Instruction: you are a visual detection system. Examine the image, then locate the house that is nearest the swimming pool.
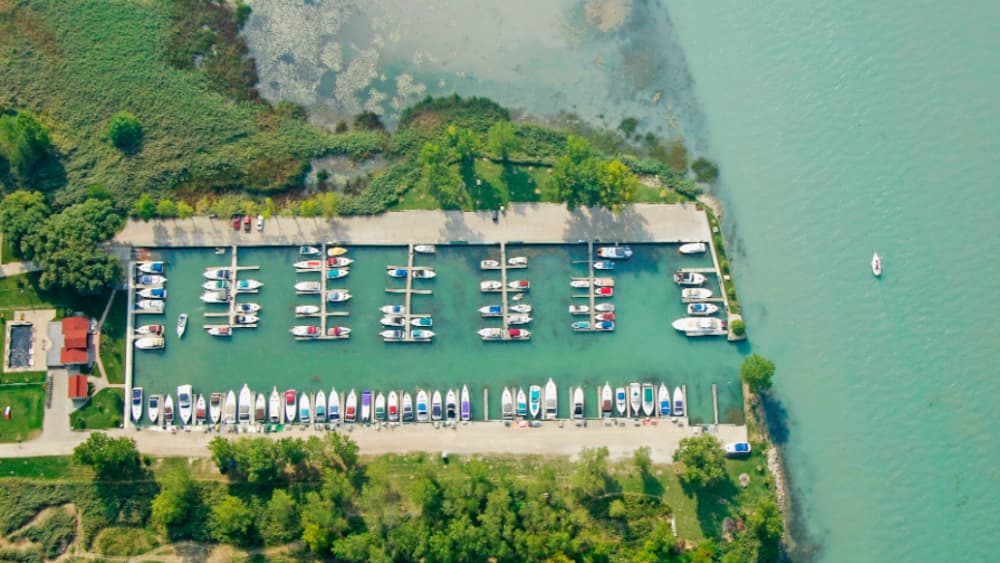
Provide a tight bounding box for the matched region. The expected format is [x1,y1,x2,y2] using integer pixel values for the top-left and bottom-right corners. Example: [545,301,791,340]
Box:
[48,317,96,370]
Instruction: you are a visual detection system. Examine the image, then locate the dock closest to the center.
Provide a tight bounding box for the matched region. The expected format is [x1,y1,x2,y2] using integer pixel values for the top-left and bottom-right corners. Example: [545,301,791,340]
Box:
[479,245,530,342]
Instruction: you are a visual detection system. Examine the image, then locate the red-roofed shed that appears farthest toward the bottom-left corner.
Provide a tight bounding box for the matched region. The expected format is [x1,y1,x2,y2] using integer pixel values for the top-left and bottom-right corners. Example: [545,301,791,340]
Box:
[68,375,89,399]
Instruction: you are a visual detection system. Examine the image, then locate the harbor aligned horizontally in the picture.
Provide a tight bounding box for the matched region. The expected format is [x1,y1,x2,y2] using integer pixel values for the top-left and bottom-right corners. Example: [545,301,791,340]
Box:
[113,202,746,436]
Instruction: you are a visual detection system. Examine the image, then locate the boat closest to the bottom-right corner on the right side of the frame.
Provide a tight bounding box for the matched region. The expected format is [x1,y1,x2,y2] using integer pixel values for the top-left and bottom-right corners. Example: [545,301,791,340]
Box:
[727,441,751,454]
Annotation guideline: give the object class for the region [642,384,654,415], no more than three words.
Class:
boat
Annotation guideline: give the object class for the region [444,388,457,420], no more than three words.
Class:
boat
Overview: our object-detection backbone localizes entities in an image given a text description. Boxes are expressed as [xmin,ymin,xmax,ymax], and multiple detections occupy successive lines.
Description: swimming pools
[3,310,56,373]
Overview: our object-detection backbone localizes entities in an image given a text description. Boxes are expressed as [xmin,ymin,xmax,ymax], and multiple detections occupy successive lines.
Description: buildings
[68,375,89,399]
[48,317,96,370]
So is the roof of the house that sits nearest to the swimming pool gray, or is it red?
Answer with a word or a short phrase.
red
